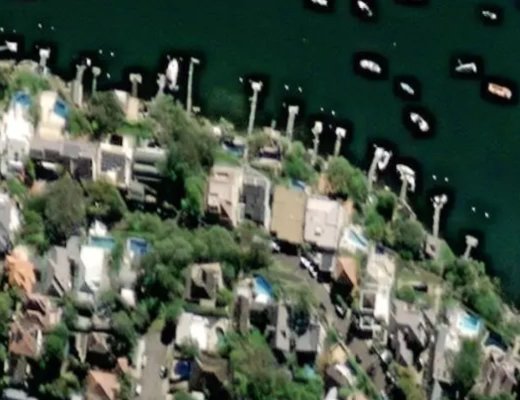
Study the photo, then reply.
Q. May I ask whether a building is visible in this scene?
Yes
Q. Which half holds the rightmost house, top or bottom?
bottom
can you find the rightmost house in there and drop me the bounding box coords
[473,345,520,396]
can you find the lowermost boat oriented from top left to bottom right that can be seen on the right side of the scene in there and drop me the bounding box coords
[410,113,430,134]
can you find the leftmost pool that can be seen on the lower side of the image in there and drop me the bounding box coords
[90,236,115,248]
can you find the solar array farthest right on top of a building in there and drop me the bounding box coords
[101,152,125,173]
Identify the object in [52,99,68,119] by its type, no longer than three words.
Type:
swimming pool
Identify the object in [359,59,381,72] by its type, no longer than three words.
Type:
boat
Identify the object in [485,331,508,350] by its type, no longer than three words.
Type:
swimming pool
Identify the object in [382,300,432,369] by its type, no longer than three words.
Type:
house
